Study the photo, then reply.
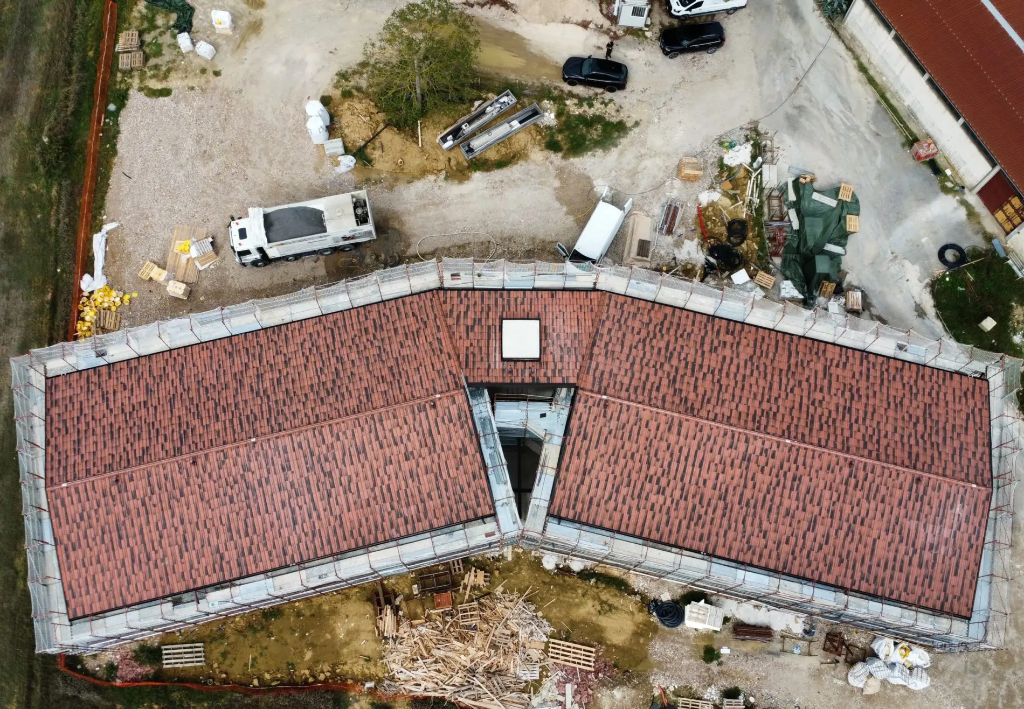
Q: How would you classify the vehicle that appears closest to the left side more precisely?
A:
truck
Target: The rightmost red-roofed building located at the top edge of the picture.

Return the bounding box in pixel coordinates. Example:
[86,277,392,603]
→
[826,0,1024,239]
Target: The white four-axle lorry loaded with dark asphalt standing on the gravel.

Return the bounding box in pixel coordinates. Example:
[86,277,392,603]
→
[224,189,377,268]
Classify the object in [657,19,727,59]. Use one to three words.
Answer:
car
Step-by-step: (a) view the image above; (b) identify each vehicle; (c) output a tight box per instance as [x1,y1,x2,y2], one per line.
[562,191,630,276]
[657,19,727,59]
[560,53,630,93]
[667,0,752,19]
[224,189,377,268]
